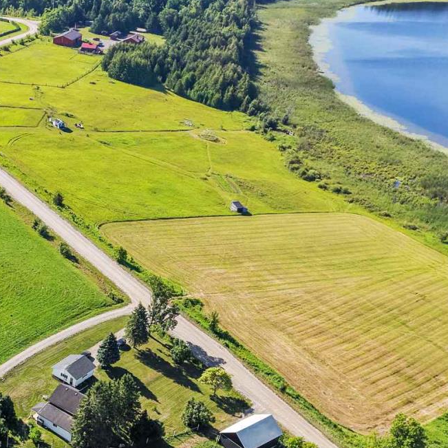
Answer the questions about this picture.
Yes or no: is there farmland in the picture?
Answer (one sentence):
Yes, there's farmland in this view.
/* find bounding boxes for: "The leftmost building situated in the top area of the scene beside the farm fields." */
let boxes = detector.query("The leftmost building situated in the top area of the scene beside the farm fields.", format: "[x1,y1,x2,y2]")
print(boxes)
[54,28,85,47]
